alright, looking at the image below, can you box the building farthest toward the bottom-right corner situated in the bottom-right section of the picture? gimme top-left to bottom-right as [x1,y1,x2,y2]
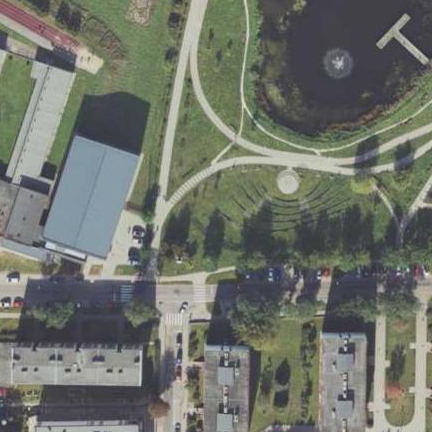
[315,330,367,432]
